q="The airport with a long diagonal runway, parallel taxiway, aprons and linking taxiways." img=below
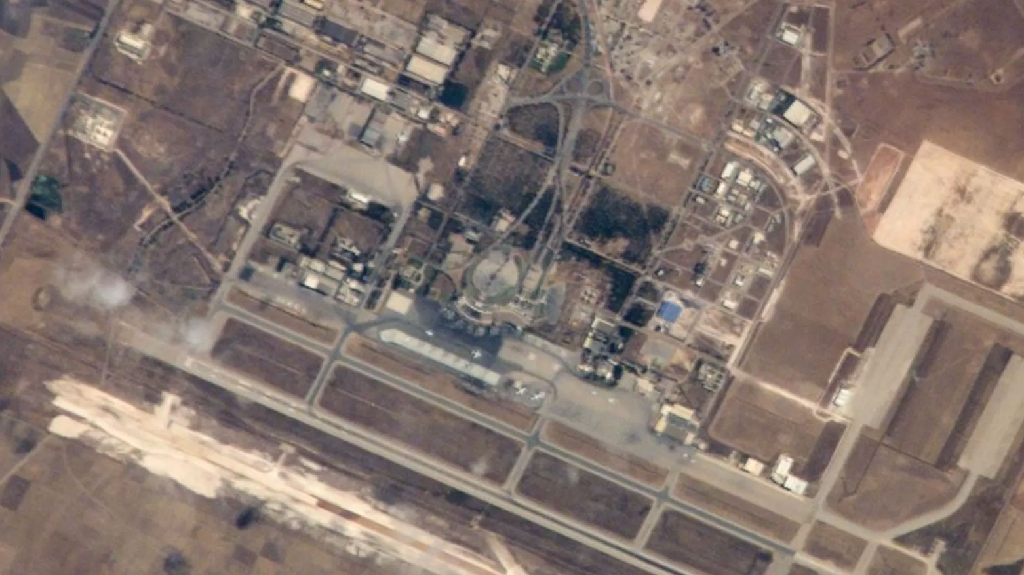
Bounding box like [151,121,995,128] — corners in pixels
[125,139,1024,575]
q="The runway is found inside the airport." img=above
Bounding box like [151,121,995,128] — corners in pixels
[134,348,681,575]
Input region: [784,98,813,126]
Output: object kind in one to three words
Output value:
hangar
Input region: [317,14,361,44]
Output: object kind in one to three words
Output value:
building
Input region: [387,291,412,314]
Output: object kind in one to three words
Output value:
hangar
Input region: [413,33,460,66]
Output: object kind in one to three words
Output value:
building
